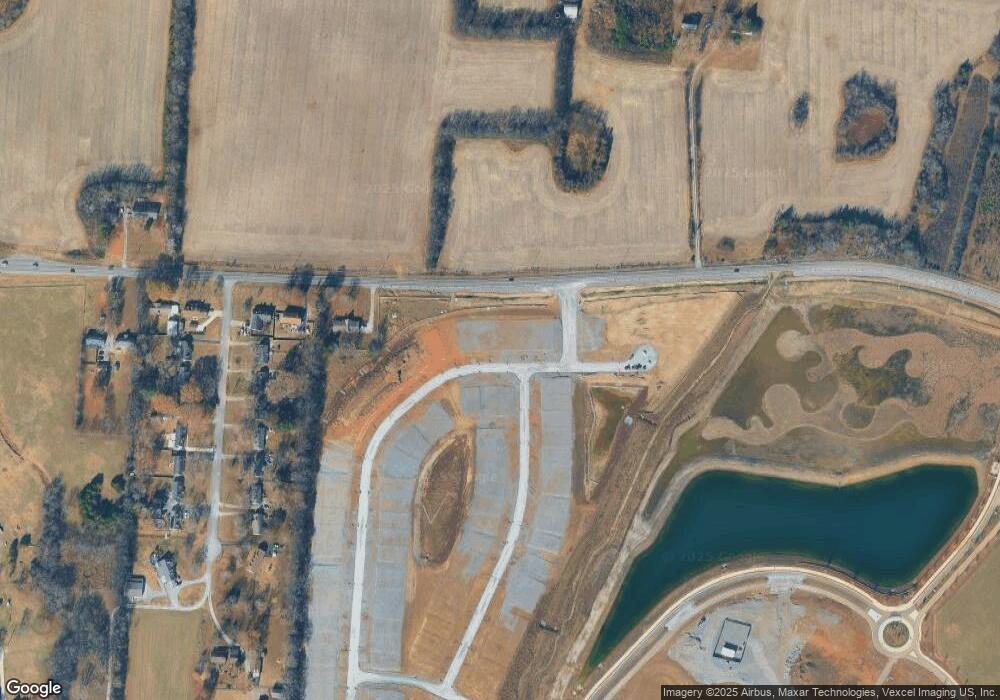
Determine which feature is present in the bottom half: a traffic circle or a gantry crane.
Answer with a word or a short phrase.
traffic circle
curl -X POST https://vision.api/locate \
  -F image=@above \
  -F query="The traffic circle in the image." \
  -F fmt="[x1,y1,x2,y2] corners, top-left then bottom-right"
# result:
[868,609,920,657]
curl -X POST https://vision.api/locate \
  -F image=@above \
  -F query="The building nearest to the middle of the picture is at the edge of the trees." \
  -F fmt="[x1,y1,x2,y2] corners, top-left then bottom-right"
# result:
[333,318,361,333]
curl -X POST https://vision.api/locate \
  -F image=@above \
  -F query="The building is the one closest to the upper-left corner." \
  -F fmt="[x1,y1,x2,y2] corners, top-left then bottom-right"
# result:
[132,204,159,221]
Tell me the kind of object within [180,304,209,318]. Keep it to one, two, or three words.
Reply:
house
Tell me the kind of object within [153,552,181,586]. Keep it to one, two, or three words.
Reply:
house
